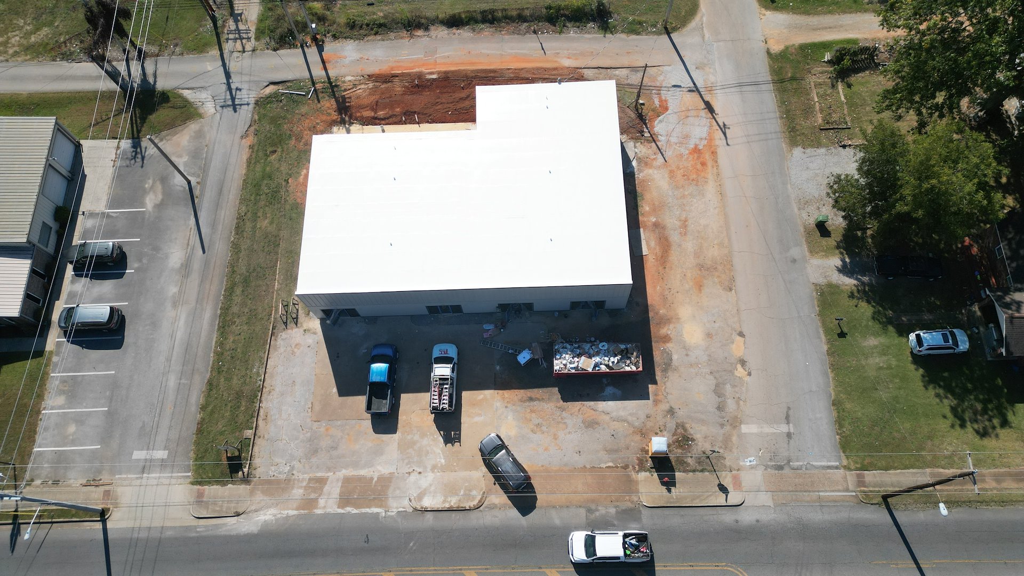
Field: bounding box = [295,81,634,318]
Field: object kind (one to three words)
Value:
building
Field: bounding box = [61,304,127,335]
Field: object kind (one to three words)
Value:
car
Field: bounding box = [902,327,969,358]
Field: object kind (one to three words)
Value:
car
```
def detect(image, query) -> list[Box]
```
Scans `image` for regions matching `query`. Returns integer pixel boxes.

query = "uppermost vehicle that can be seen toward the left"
[64,241,127,271]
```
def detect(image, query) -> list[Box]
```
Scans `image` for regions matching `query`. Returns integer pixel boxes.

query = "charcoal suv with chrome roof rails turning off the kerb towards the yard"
[477,431,535,499]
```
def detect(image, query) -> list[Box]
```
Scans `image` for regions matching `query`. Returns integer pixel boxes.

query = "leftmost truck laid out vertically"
[365,344,398,417]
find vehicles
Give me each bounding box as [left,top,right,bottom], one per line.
[365,344,398,417]
[64,241,127,271]
[567,528,652,566]
[902,327,969,358]
[429,344,459,415]
[477,431,535,499]
[61,304,127,335]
